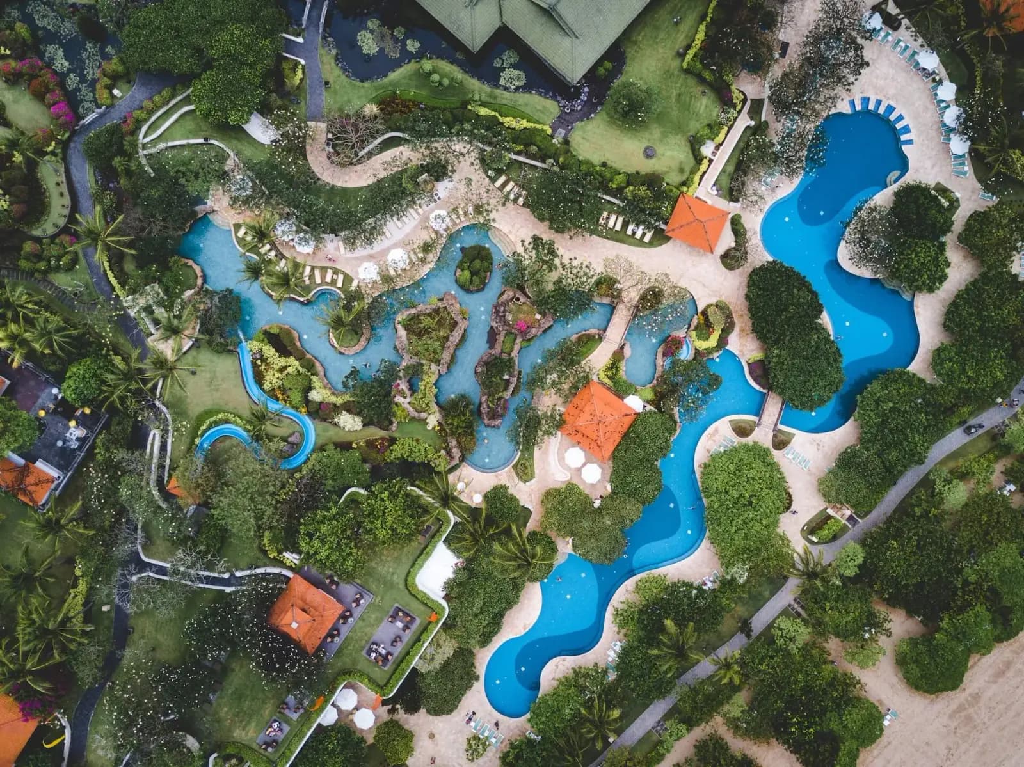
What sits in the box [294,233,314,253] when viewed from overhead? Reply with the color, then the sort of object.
white umbrella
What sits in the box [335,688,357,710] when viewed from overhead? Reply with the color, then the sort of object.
white umbrella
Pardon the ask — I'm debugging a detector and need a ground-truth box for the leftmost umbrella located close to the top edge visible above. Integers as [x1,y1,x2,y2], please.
[864,10,883,30]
